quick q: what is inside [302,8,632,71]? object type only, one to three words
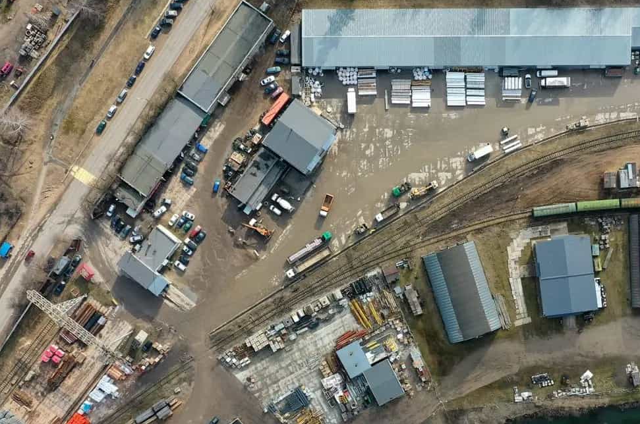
building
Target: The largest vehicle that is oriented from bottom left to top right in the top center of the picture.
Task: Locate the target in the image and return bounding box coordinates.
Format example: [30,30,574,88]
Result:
[258,92,291,125]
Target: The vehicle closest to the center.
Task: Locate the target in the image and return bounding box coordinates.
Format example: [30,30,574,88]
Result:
[320,193,333,217]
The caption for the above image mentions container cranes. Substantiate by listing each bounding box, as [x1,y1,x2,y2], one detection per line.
[25,292,141,367]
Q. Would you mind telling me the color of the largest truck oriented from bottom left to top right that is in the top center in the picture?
red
